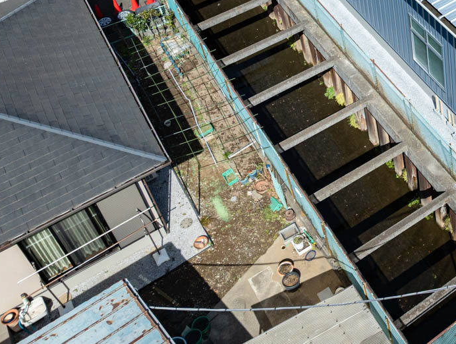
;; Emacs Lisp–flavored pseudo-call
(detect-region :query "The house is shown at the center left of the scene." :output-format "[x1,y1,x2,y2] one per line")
[0,0,195,336]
